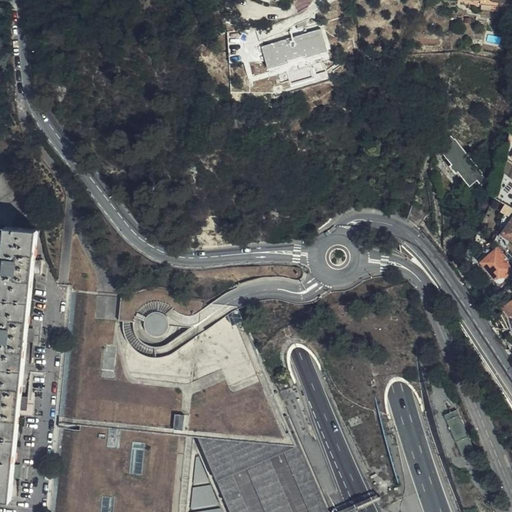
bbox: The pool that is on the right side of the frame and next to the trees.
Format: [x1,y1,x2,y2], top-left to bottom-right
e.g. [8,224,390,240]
[484,31,501,46]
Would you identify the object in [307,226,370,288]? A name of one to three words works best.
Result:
roundabout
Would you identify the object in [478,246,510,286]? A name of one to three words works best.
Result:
house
